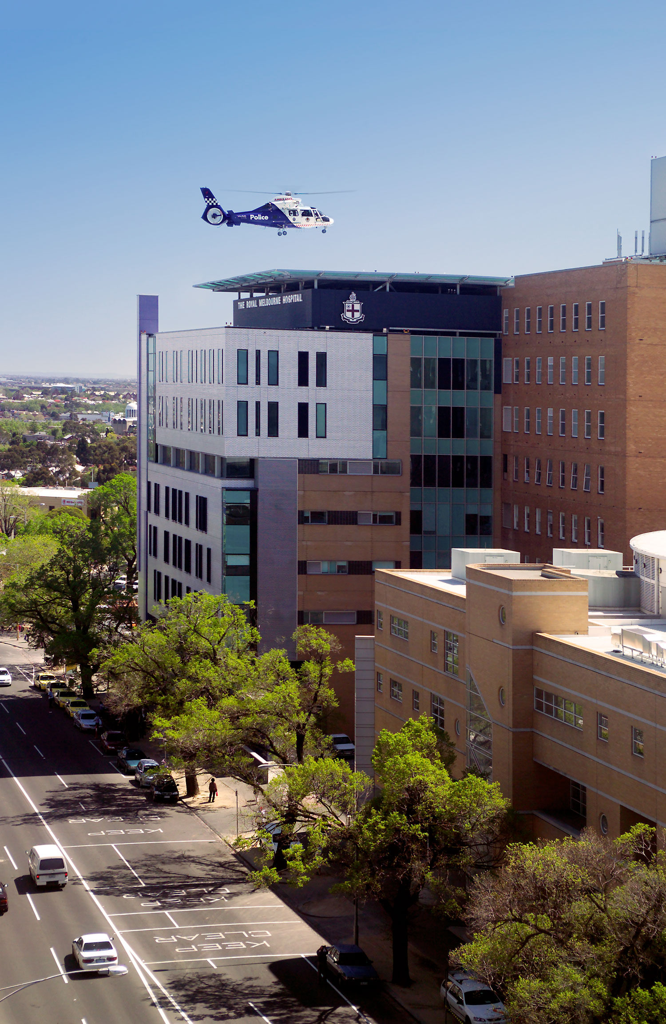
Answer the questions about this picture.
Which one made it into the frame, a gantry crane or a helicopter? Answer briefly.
helicopter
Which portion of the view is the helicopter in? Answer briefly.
top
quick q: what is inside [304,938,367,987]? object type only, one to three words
car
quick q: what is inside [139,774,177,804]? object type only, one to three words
car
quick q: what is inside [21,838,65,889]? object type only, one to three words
van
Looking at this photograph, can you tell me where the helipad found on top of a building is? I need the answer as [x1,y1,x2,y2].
[213,275,497,292]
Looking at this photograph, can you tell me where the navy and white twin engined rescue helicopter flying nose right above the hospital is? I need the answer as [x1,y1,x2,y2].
[201,186,355,237]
